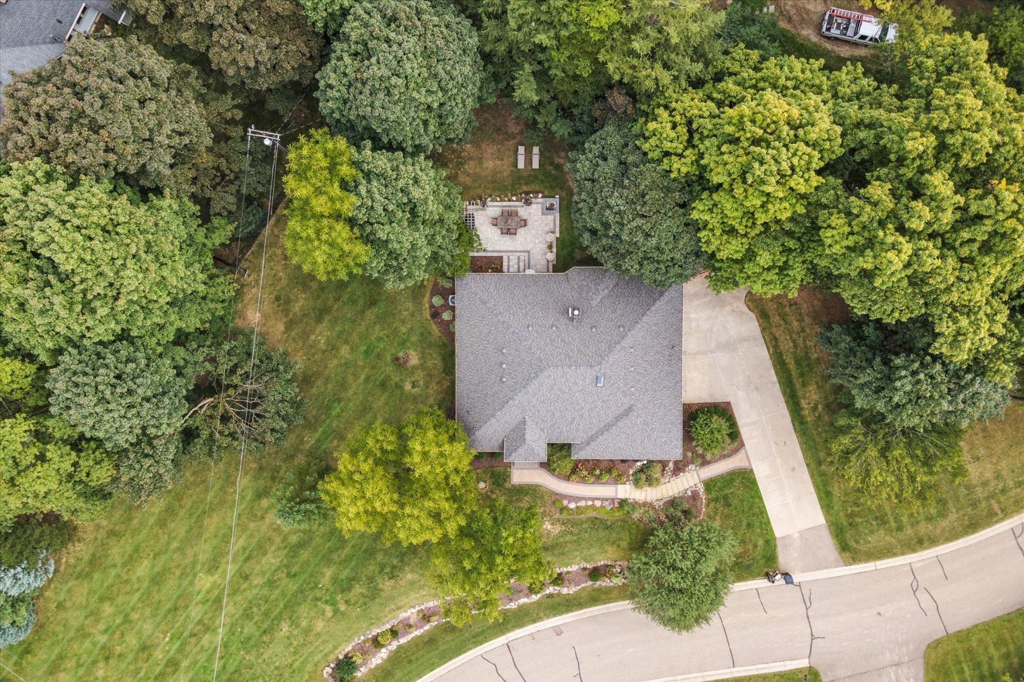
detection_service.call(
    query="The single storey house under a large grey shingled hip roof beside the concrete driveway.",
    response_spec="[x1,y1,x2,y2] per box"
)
[455,266,683,462]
